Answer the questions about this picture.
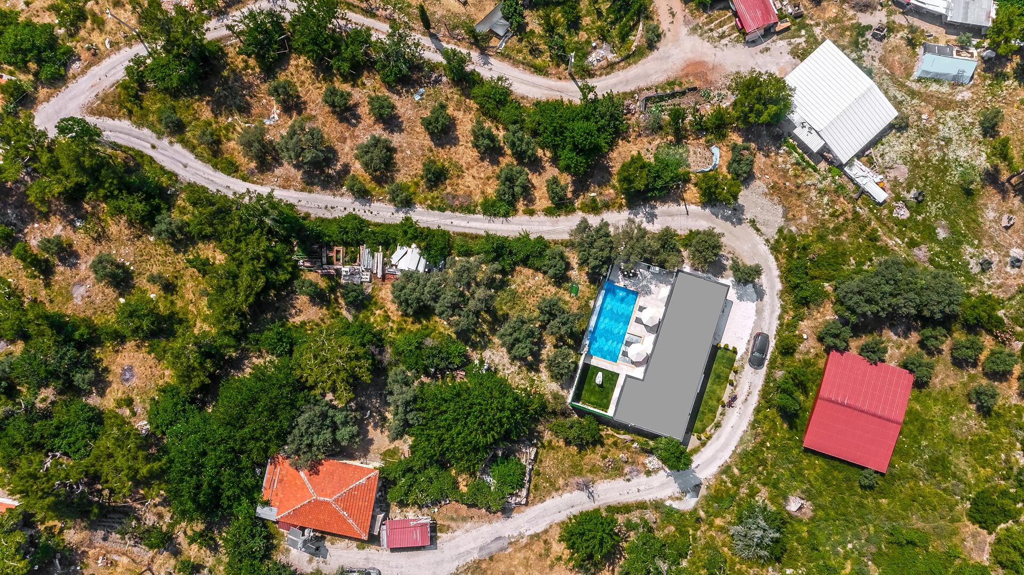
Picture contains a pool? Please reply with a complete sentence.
Yes, looking at the shot, I can spot a pool.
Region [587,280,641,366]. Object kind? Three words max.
swimming pool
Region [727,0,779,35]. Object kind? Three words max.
shed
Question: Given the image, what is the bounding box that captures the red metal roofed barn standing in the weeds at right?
[802,351,912,473]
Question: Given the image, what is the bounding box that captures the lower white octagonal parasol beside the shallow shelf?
[628,343,647,362]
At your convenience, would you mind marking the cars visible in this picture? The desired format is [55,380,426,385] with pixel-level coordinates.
[345,566,382,575]
[747,332,769,369]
